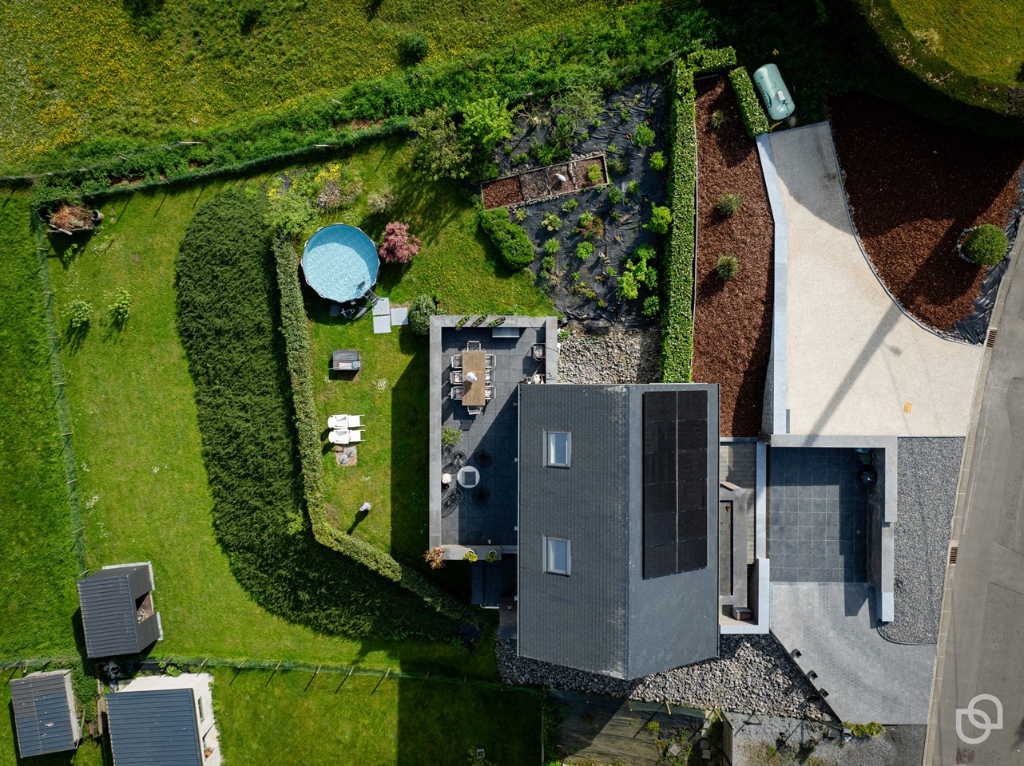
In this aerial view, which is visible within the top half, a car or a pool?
pool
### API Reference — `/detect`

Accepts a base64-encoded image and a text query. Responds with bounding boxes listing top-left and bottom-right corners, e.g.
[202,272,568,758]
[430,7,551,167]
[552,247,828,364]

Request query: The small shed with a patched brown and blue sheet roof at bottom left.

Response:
[9,669,86,758]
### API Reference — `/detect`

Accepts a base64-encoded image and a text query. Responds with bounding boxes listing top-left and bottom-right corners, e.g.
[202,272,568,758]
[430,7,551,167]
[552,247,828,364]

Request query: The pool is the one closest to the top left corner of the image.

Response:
[300,223,384,305]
